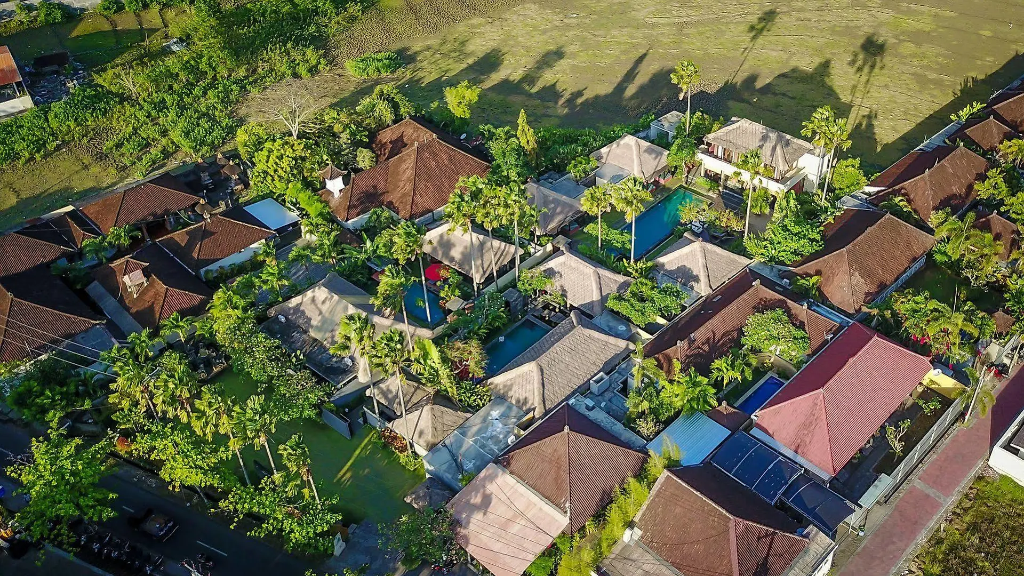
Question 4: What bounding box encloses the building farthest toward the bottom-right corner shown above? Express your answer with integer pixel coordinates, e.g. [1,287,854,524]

[979,405,1024,490]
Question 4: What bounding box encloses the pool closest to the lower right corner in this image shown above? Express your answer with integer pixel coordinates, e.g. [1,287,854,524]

[735,371,788,415]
